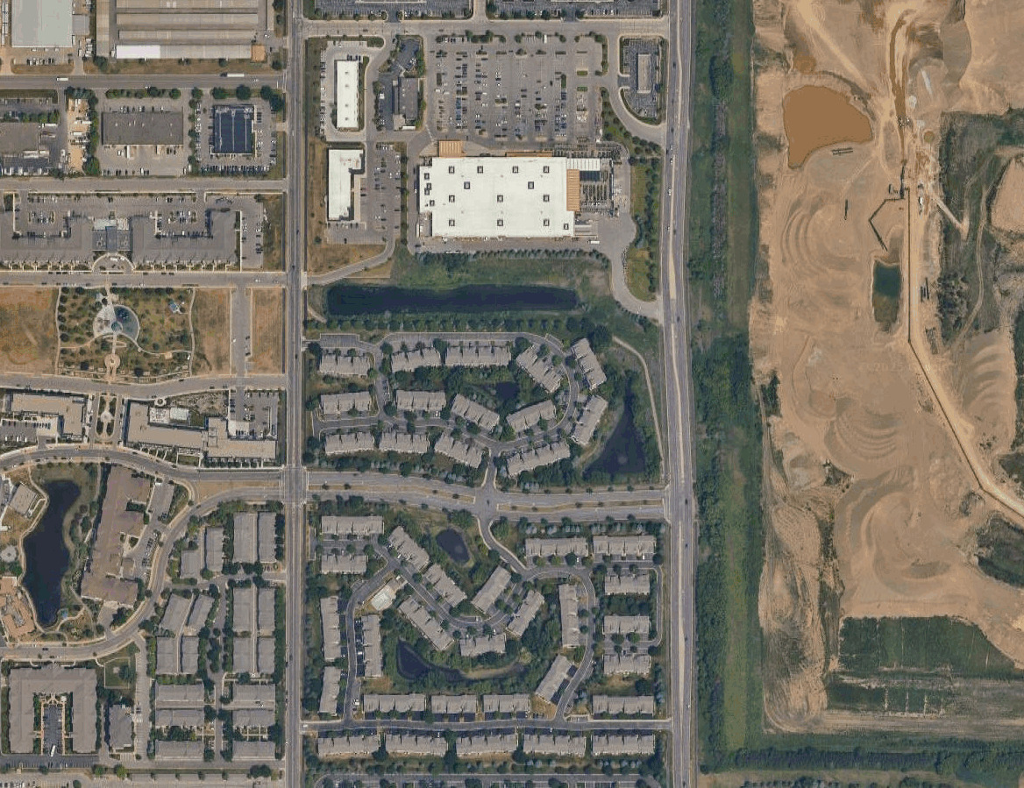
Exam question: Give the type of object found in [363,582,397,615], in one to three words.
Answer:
swimming pool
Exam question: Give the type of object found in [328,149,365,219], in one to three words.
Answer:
building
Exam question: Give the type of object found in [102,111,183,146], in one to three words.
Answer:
building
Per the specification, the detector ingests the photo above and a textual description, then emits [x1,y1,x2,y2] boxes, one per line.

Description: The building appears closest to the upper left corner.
[10,0,72,50]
